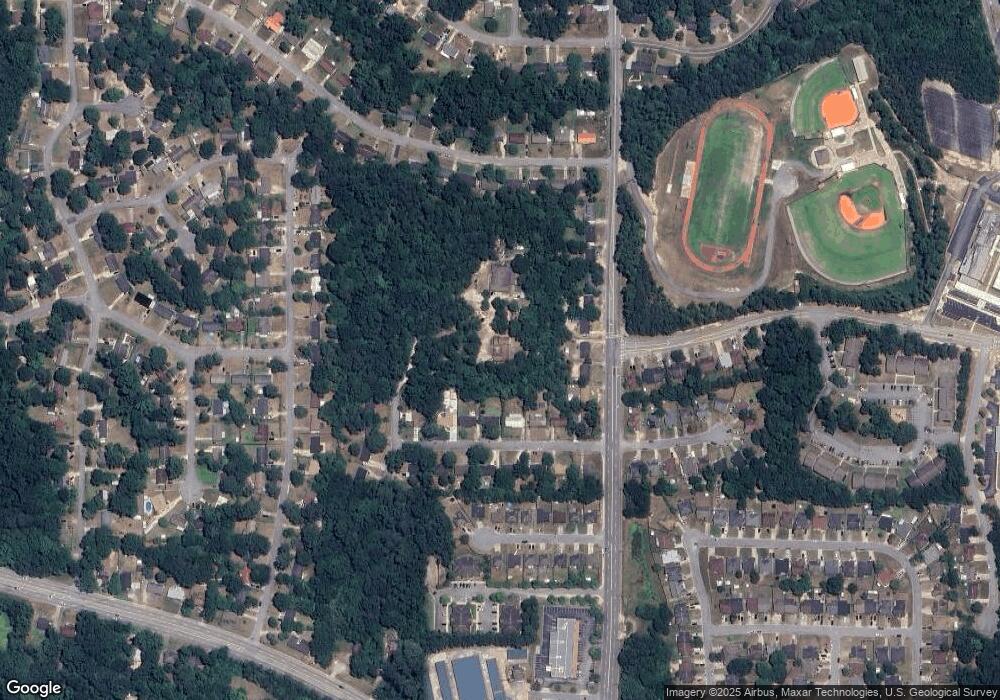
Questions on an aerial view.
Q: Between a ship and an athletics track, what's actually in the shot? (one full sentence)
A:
Visible in the photo is an athletics track.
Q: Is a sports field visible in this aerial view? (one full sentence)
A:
Yes, this view includes a sports field.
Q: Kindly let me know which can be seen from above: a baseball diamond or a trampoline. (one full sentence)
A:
The one in the frame is a baseball diamond.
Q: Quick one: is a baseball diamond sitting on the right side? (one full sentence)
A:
Yes, the scene does show a baseball diamond on the right side.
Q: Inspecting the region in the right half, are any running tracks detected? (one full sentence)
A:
Yes, in the right half there is a running track.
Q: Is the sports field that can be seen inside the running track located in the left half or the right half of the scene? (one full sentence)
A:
The sports field that can be seen inside the running track is on the right side of the image.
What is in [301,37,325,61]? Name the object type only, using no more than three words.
house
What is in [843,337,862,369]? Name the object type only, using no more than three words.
building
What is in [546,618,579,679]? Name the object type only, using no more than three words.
building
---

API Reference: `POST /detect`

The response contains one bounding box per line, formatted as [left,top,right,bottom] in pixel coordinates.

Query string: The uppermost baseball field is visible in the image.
[790,57,859,138]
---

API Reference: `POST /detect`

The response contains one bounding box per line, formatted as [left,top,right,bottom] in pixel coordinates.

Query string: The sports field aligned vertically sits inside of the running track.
[687,108,765,264]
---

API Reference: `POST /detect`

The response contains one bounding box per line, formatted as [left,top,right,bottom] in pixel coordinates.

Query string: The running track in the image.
[680,101,771,274]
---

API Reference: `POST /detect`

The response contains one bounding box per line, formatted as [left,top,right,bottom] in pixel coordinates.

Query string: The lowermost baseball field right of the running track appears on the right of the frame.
[786,163,907,286]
